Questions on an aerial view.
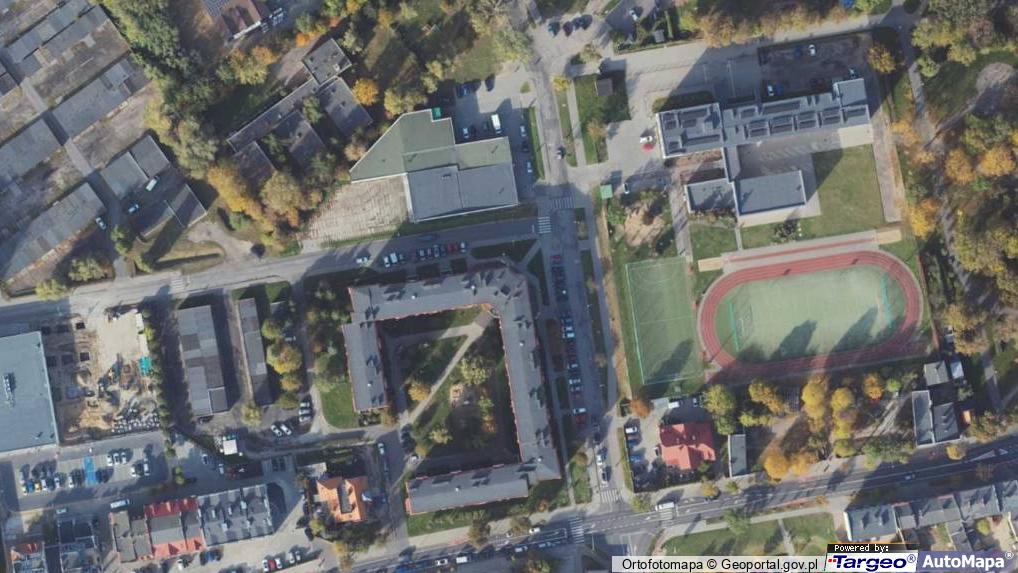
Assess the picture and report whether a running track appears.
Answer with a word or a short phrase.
Yes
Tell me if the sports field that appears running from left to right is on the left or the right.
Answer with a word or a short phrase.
right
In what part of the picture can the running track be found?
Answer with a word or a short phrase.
right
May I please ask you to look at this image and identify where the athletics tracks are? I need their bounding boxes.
[698,250,929,381]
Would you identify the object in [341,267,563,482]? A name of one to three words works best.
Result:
building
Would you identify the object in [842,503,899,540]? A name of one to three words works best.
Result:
house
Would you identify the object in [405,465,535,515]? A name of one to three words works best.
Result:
building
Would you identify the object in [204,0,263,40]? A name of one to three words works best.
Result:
house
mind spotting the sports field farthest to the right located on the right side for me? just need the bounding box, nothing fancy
[718,268,904,362]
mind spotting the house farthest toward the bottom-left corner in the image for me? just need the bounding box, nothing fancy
[11,541,51,573]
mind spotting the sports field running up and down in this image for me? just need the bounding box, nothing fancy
[627,257,702,383]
